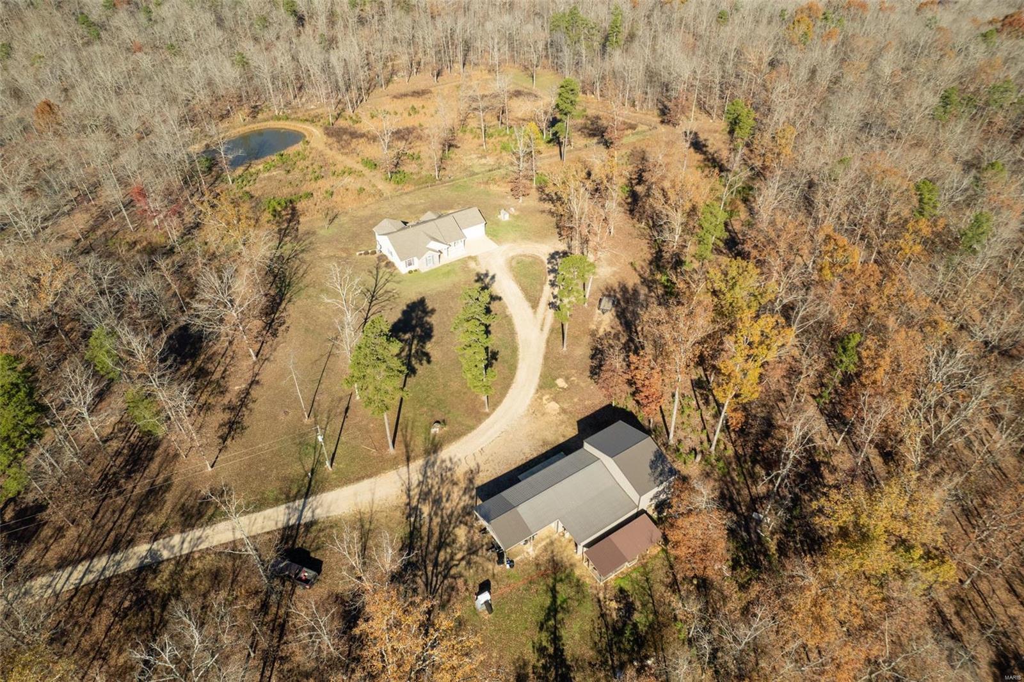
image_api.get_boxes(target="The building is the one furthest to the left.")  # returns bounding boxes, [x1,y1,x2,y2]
[372,205,490,273]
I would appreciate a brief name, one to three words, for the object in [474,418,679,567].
building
